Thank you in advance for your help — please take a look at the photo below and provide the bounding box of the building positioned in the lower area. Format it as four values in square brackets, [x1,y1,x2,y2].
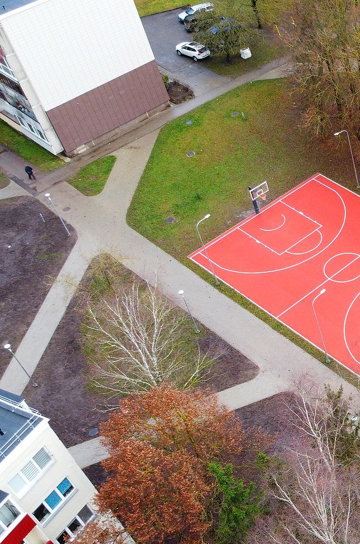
[0,389,136,544]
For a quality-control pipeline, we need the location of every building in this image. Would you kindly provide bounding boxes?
[0,389,136,544]
[0,0,174,160]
